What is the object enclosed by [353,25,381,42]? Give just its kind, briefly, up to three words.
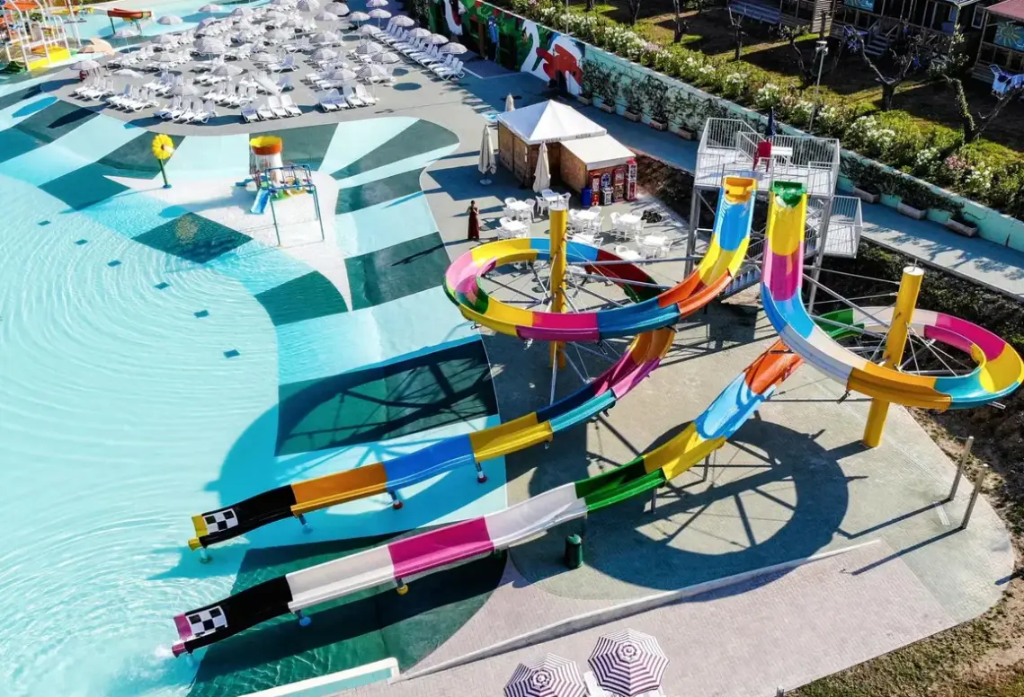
umbrella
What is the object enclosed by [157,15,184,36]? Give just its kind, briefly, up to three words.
umbrella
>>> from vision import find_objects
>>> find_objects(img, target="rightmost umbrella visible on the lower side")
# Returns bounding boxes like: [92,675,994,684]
[584,643,668,697]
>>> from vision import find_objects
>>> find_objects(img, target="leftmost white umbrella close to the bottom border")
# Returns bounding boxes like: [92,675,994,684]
[504,658,587,697]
